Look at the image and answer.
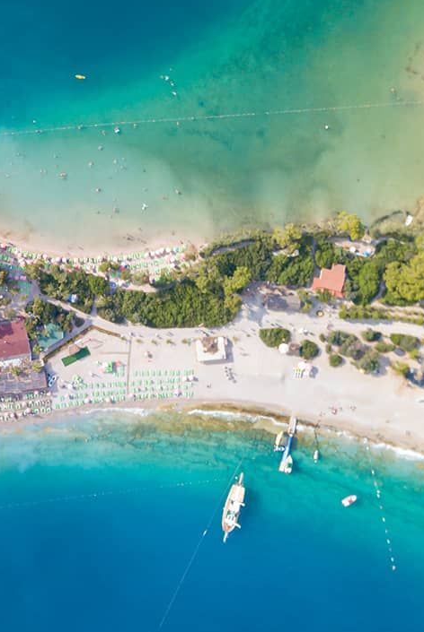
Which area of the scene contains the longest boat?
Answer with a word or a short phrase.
bottom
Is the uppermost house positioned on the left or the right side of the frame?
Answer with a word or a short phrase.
right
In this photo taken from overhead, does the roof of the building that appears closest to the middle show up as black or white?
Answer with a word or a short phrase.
white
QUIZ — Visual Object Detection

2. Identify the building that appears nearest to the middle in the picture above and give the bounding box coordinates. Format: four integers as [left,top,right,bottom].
[195,337,226,362]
